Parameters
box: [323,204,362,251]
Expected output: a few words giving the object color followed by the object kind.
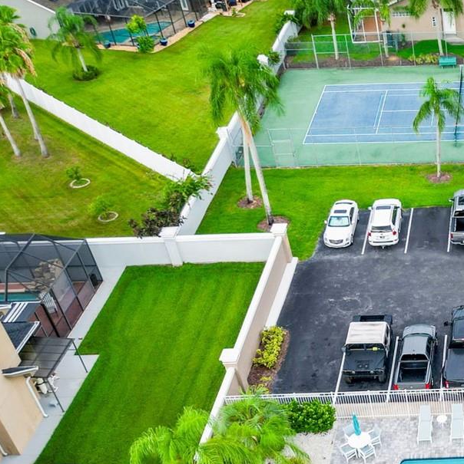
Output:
white car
